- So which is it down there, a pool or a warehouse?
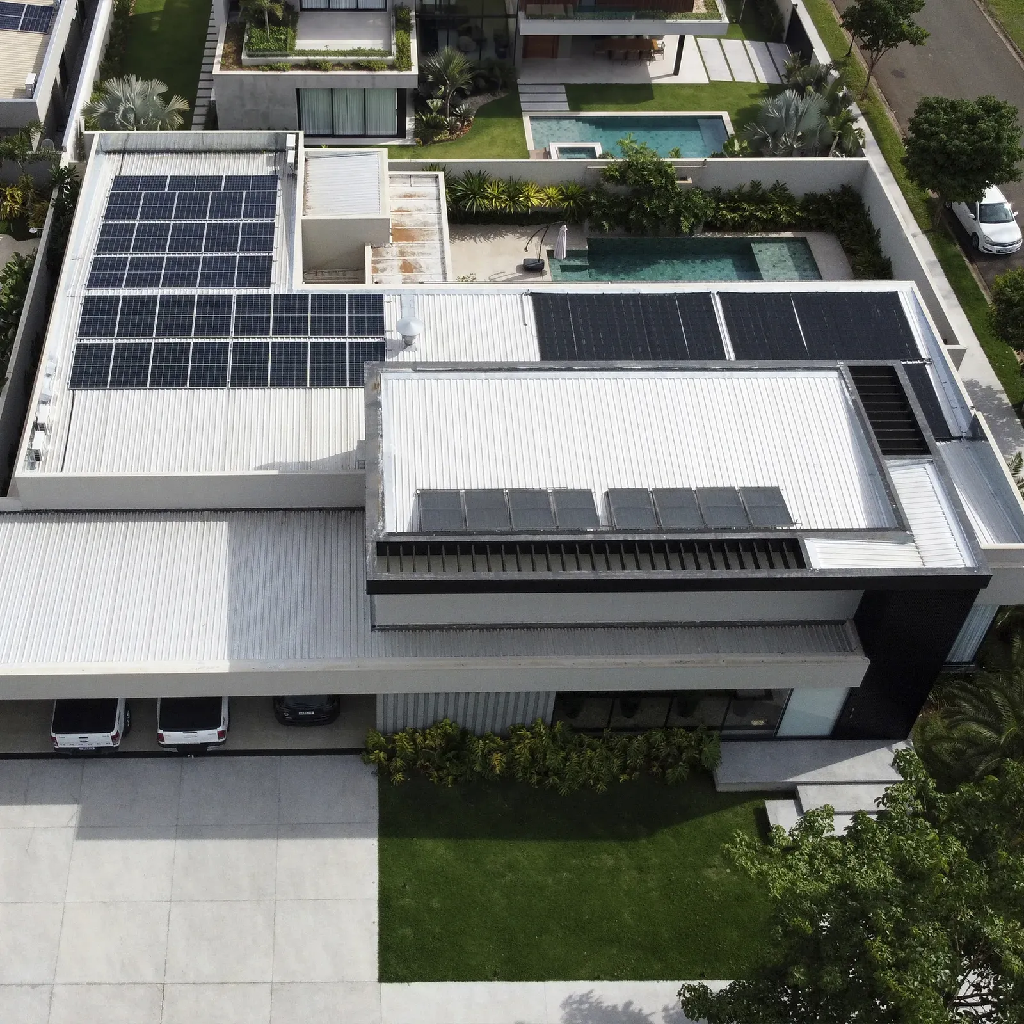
pool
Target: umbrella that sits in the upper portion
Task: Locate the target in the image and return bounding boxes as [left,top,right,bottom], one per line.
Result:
[523,218,572,269]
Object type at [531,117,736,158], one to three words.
swimming pool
